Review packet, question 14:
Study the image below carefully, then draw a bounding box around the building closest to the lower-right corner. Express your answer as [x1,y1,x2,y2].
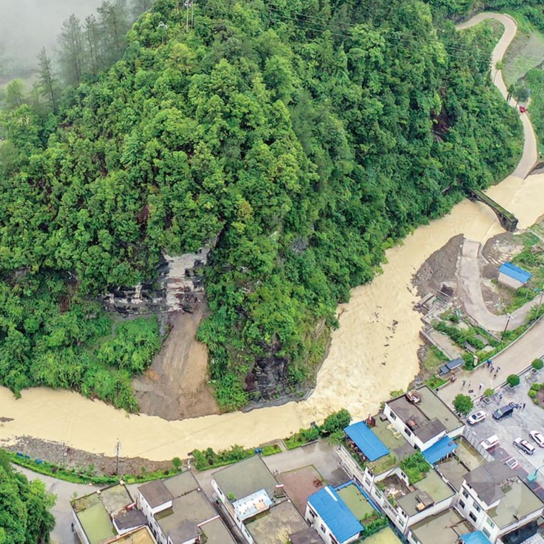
[456,462,544,544]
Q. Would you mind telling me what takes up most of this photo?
trees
